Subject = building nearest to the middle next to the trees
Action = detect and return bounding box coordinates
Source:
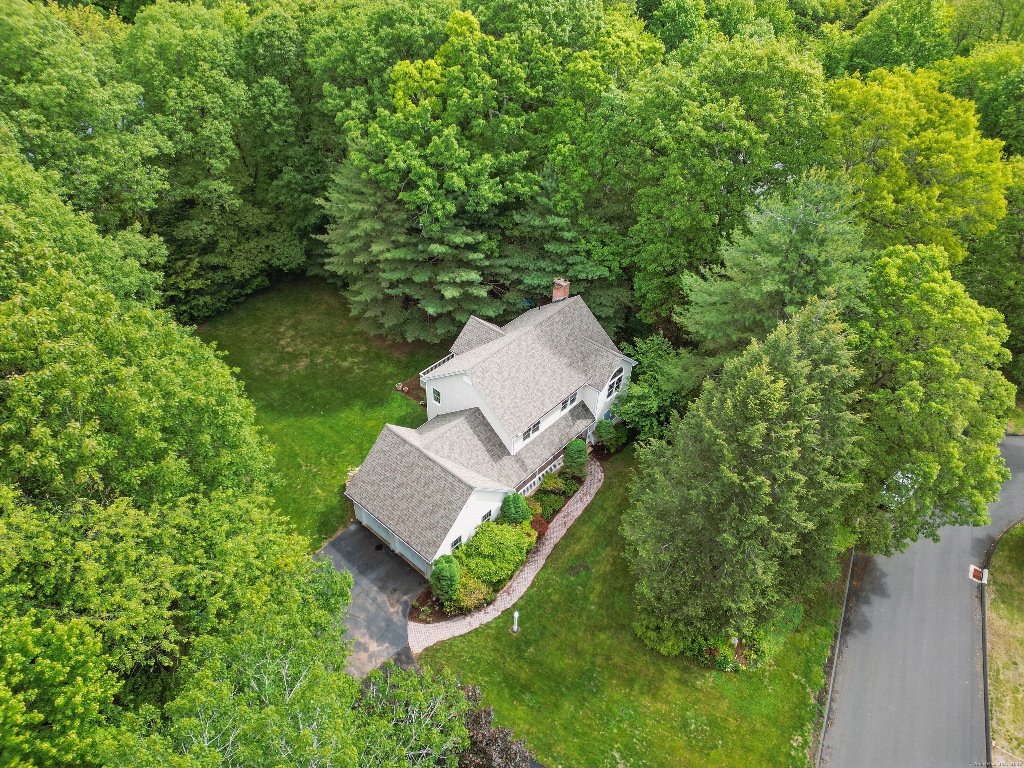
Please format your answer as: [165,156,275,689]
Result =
[344,277,639,582]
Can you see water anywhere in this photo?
No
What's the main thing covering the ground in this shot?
trees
